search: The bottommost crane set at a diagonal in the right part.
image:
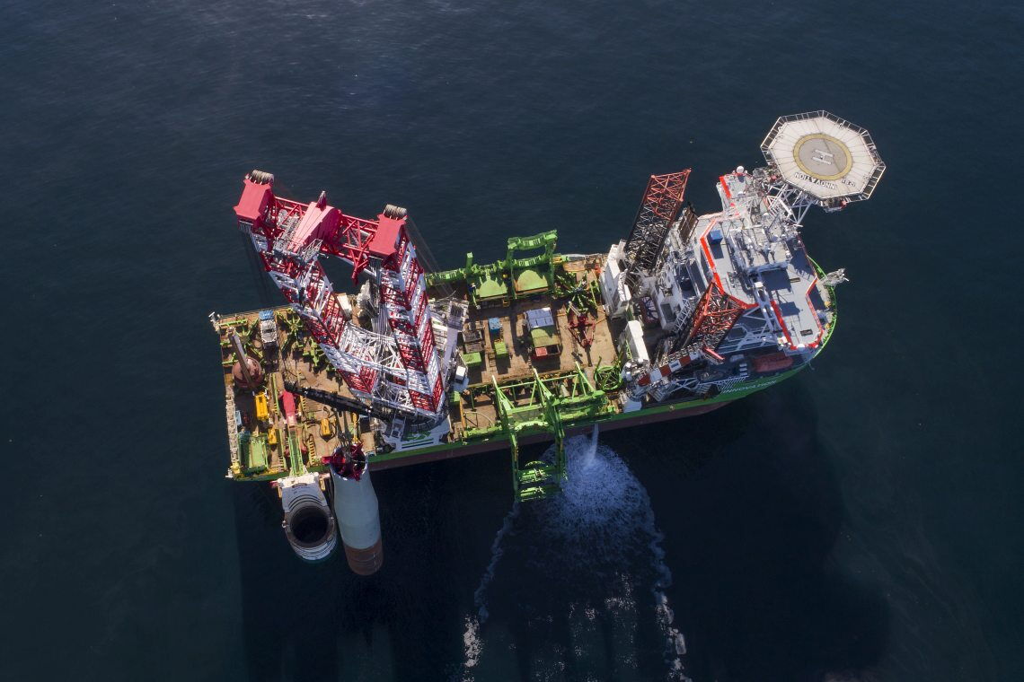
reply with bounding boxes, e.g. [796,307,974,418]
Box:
[620,339,716,410]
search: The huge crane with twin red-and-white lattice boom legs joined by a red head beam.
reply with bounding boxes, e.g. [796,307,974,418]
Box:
[230,168,470,451]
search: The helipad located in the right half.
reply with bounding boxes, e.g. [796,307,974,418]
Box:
[760,111,888,264]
